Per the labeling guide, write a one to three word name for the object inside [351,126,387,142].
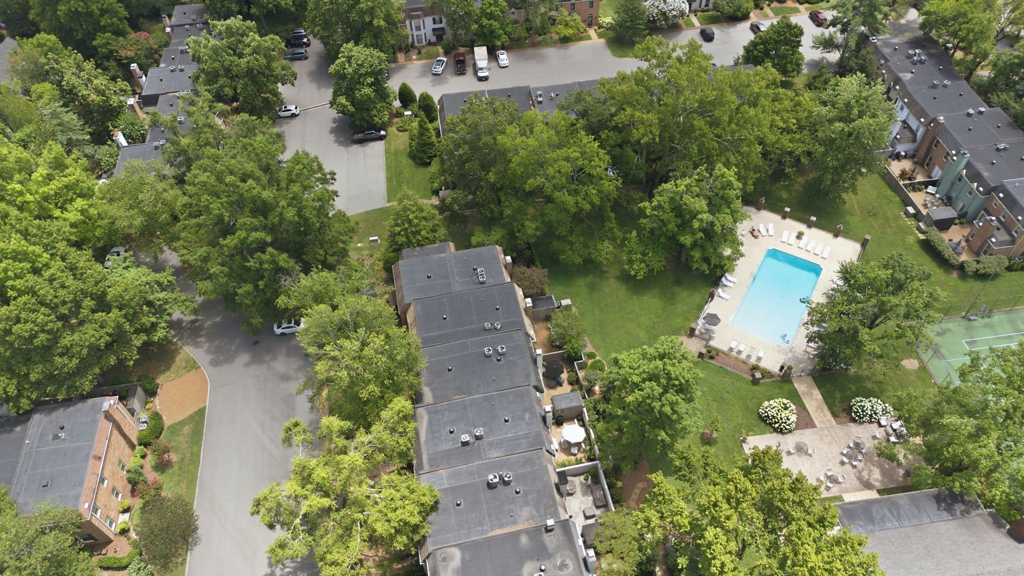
vehicle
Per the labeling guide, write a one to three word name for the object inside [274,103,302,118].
car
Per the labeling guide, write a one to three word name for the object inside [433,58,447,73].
car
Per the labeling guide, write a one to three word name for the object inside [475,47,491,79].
vehicle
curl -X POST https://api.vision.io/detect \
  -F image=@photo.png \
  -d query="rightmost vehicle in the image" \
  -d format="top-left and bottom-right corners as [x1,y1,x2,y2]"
[808,12,829,24]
